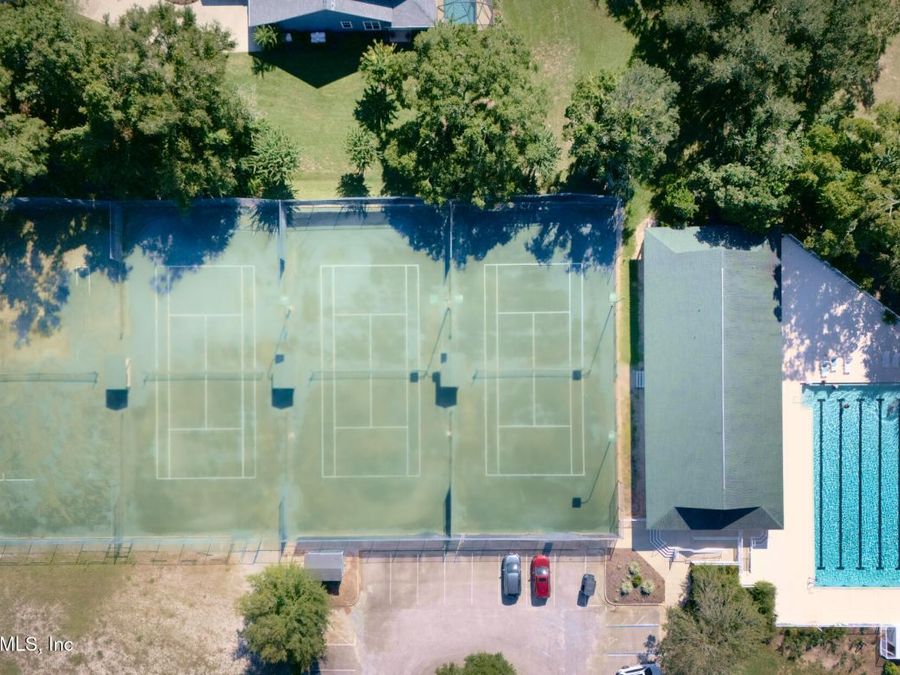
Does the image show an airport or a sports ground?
sports ground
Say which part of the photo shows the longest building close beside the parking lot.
right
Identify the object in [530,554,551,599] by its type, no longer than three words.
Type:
car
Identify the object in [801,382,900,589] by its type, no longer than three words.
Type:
swimming pool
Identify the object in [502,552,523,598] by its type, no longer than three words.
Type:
car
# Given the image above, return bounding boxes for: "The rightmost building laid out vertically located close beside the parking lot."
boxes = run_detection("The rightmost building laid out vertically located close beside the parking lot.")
[642,228,789,530]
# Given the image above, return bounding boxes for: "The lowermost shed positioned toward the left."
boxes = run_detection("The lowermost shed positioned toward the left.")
[302,548,345,582]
